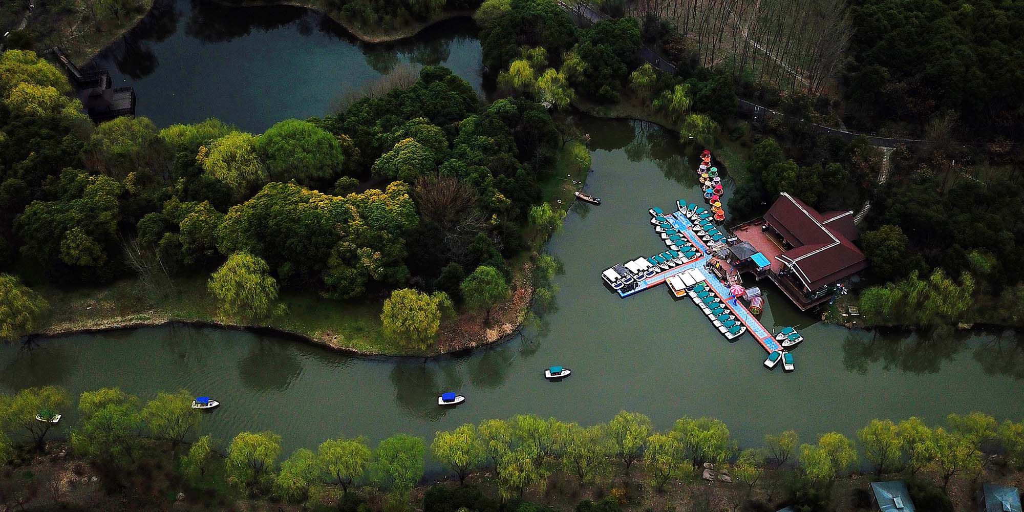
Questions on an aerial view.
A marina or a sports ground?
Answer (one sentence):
What you see here is a marina.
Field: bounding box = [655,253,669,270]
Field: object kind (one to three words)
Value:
boat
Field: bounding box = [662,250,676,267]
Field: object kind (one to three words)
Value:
boat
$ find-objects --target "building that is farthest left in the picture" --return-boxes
[50,43,135,115]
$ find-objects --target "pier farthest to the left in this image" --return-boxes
[616,211,783,354]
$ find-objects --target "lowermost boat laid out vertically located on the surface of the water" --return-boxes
[782,351,794,374]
